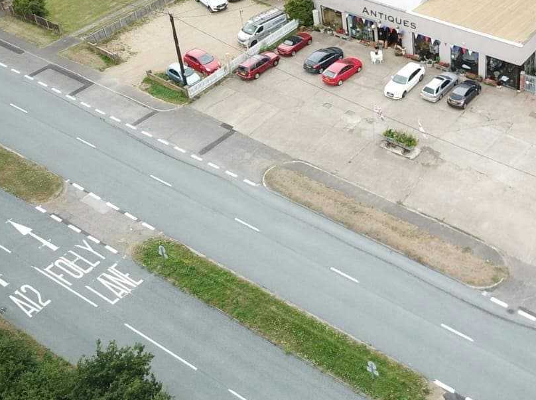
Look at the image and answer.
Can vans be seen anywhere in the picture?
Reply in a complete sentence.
Yes, you can see a van in this photo.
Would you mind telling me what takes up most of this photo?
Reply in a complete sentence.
The largest share of the image is taken up by paved ground.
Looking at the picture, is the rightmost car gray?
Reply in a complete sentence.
Yes, gray is the color of the rightmost car.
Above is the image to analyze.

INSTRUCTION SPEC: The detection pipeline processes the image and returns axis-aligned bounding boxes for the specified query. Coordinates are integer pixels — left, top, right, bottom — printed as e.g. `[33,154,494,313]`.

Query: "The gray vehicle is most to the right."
[443,78,481,110]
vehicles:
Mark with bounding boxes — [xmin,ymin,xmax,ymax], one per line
[300,44,343,74]
[238,6,283,44]
[420,69,459,101]
[273,30,313,57]
[198,0,229,12]
[180,46,220,74]
[236,50,282,81]
[443,78,481,110]
[386,63,425,97]
[320,57,363,86]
